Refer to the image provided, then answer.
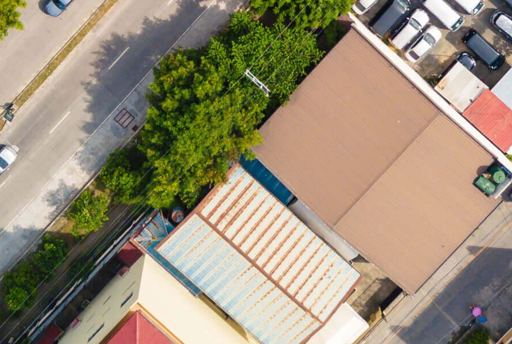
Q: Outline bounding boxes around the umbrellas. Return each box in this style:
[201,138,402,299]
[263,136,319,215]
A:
[471,305,483,317]
[477,315,487,324]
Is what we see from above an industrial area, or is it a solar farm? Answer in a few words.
industrial area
